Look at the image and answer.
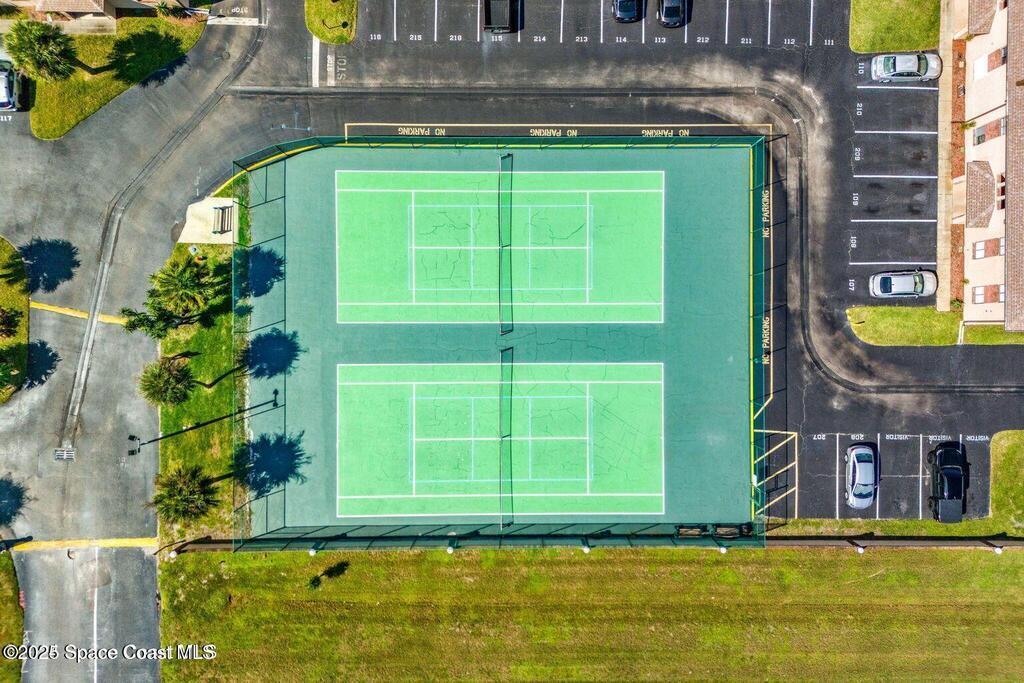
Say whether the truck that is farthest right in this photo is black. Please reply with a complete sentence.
Yes, the truck that is farthest right is indeed black.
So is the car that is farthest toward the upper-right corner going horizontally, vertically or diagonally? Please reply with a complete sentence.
The car that is farthest toward the upper-right corner is laid out horizontally.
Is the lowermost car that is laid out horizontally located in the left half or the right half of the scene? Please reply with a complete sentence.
The lowermost car that is laid out horizontally sits on the right side.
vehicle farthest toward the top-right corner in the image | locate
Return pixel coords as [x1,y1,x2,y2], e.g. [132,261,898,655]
[872,50,940,83]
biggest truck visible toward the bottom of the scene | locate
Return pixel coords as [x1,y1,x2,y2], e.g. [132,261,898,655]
[926,445,970,523]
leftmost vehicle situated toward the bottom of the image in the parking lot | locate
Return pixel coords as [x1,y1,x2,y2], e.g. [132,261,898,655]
[843,445,877,509]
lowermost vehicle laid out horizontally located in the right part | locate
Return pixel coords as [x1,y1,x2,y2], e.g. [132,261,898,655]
[869,269,935,299]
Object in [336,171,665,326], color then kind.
green tennis court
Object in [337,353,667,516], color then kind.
green tennis court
